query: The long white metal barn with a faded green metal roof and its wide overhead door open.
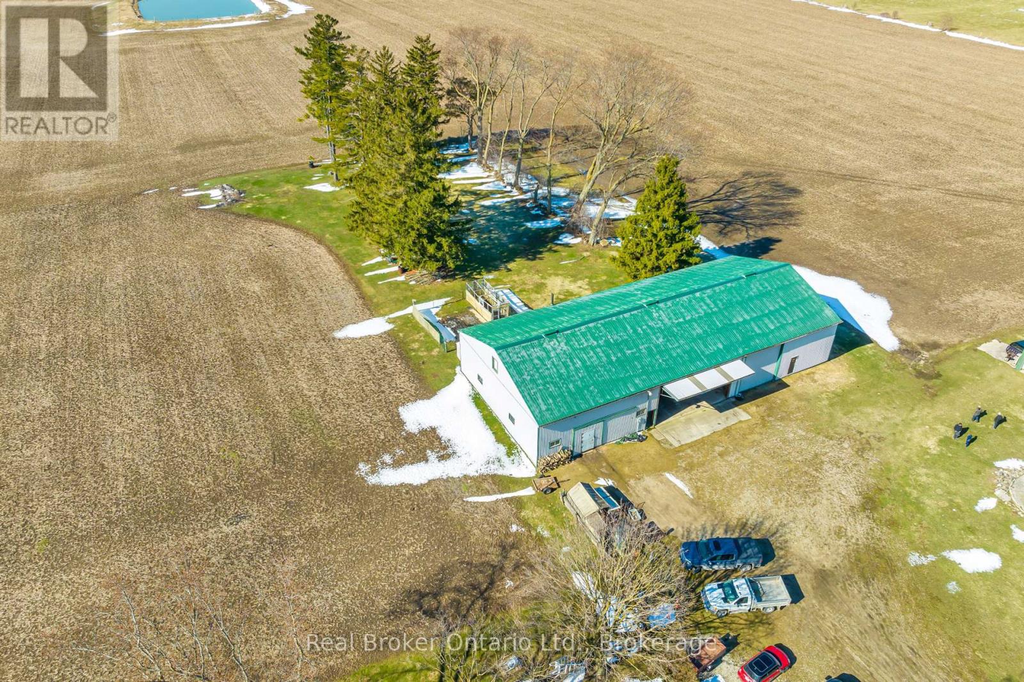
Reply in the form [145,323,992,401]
[457,254,845,470]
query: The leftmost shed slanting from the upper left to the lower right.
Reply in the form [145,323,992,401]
[558,481,628,560]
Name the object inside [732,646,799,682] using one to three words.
car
